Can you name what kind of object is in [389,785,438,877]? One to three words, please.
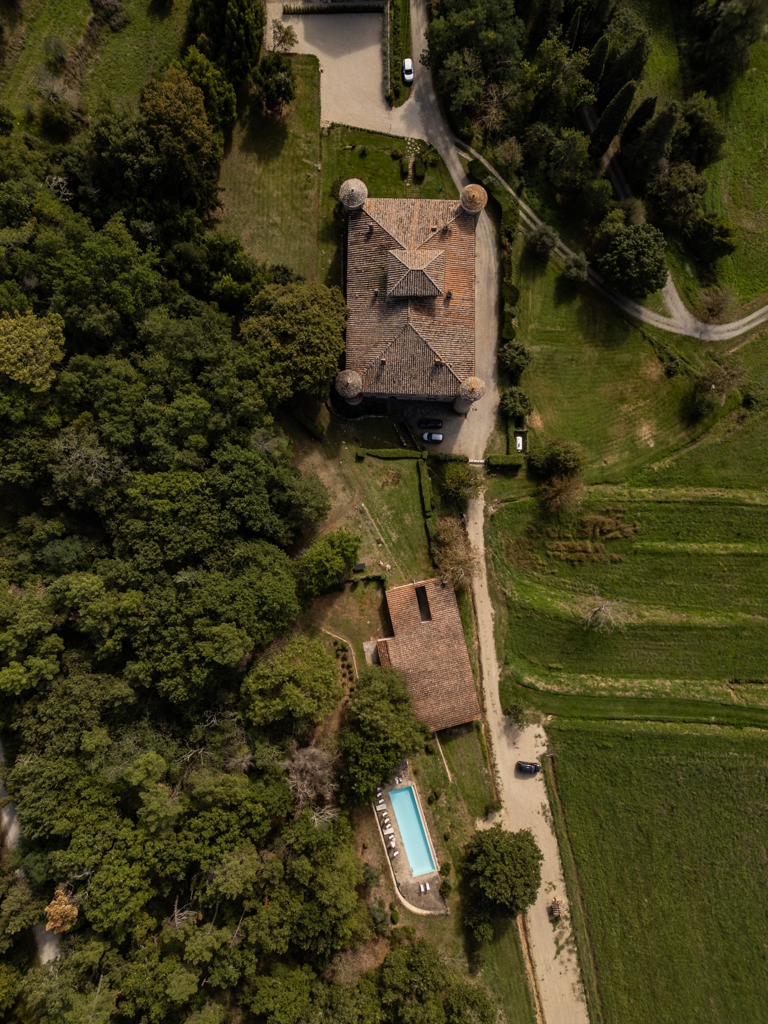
swimming pool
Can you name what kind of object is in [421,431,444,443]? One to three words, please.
vehicle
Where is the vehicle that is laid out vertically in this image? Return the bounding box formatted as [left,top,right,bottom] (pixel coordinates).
[402,57,414,84]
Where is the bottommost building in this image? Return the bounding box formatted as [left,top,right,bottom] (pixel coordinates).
[376,577,482,731]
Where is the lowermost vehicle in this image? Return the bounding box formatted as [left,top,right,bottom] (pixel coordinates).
[514,759,538,773]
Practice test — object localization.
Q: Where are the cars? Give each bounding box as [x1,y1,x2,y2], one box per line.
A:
[402,57,414,84]
[418,418,442,429]
[421,431,444,443]
[514,759,538,773]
